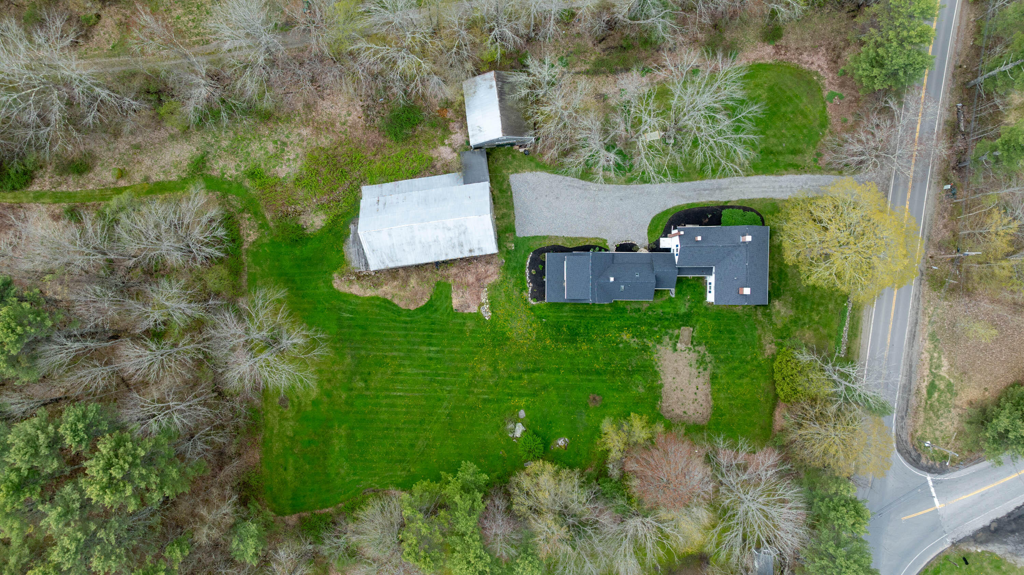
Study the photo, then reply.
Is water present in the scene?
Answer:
No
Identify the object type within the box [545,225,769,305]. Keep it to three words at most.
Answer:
house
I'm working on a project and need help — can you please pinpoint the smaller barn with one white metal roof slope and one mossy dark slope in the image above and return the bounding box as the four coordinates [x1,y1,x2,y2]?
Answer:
[462,70,534,149]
